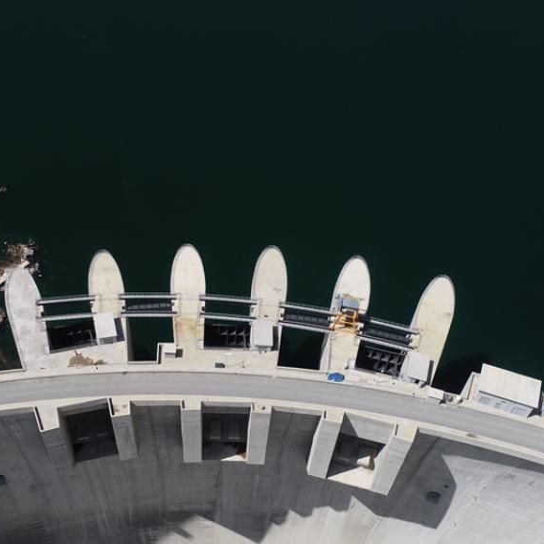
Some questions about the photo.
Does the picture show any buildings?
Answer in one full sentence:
Yes, a building is visible in the scene.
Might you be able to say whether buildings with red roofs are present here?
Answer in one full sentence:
No, I find no building with a red roof anywhere in the image.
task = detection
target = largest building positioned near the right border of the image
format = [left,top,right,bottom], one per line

[476,363,542,417]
